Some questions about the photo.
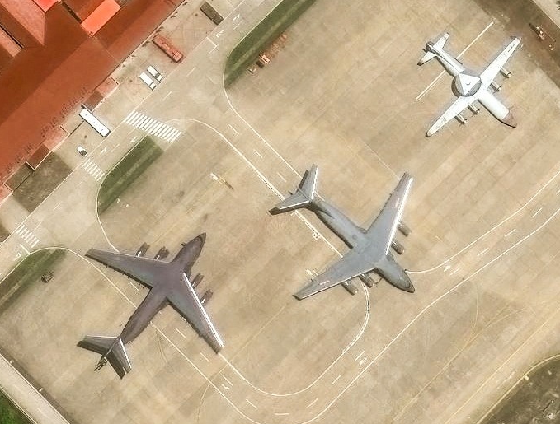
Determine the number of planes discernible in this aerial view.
3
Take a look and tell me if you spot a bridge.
No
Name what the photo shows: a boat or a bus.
bus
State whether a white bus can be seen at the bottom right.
No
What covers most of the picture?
paved ground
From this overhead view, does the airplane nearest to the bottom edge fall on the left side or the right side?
left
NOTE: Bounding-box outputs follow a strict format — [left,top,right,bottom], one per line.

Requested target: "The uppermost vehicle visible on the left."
[199,0,224,23]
